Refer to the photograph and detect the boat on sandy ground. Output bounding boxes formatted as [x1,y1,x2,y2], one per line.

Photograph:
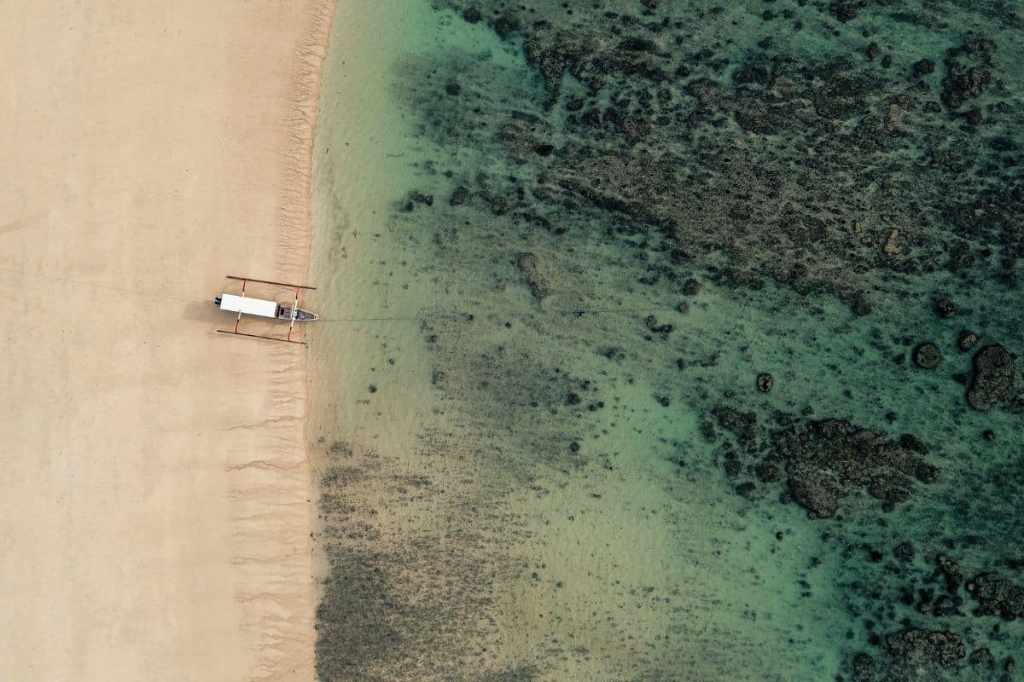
[212,275,322,344]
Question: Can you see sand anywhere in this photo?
Yes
